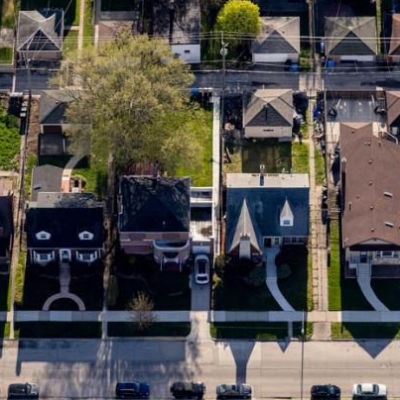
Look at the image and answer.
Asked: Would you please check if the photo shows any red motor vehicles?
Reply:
No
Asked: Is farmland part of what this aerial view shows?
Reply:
No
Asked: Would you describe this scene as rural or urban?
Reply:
urban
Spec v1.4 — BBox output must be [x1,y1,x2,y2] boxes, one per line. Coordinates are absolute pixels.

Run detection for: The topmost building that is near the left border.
[17,11,64,61]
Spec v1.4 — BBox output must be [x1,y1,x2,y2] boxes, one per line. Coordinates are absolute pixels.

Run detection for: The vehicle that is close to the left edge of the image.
[6,382,40,398]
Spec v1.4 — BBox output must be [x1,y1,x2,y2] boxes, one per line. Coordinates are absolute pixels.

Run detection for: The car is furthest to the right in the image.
[354,383,387,399]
